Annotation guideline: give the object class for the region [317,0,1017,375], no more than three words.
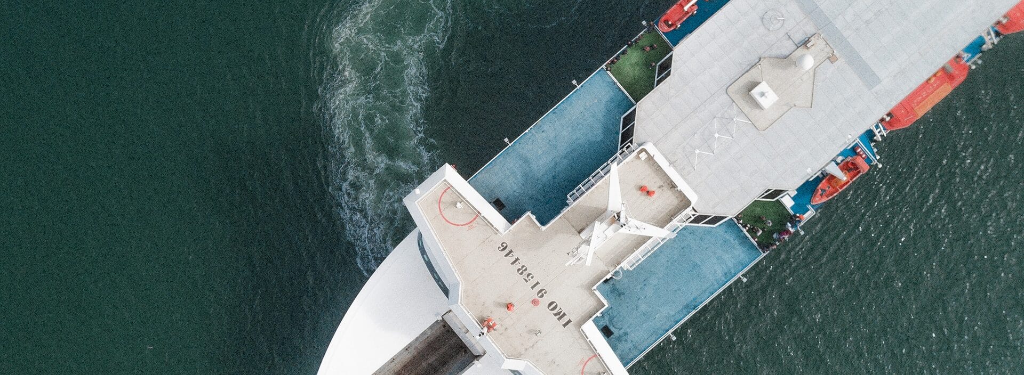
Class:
ship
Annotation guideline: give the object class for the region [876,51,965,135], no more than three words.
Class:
boat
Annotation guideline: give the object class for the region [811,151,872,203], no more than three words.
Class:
boat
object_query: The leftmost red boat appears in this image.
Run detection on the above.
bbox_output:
[658,0,703,33]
